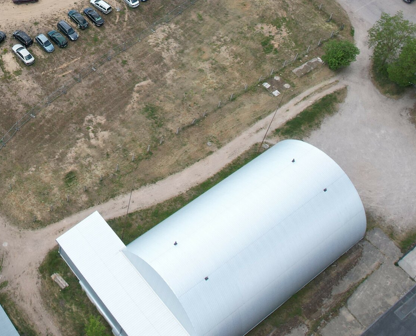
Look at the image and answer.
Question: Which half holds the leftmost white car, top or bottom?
top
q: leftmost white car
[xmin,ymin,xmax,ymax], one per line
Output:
[12,45,36,68]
